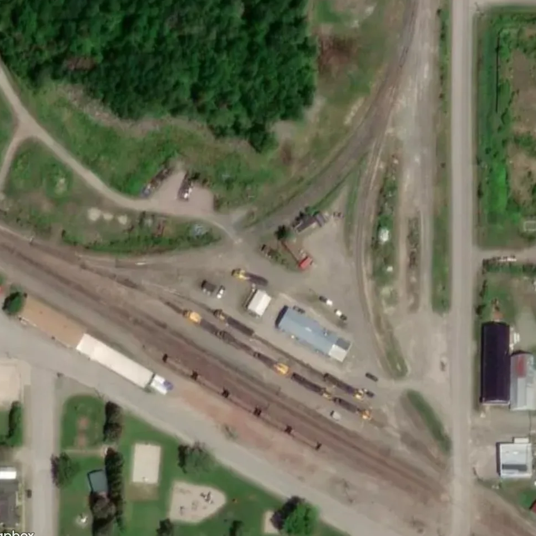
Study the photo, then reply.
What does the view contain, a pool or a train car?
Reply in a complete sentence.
I can see a train car in this picture.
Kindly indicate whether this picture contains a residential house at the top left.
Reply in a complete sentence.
No, at the top left there is no residential house.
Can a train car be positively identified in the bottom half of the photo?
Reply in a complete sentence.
Yes, in the bottom half of the photo there is a train car.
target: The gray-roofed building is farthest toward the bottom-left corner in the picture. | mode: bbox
[0,481,19,526]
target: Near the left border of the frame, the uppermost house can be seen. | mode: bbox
[18,299,85,347]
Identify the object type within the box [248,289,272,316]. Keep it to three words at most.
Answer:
shed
